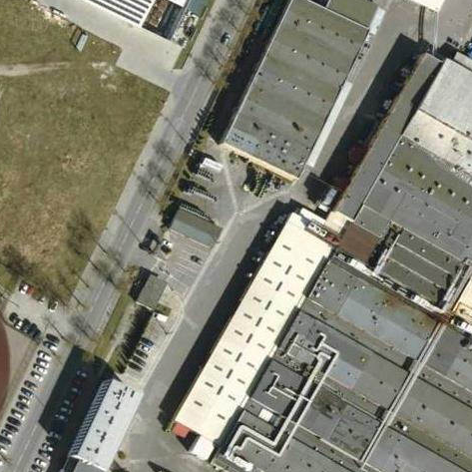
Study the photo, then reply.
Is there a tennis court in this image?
No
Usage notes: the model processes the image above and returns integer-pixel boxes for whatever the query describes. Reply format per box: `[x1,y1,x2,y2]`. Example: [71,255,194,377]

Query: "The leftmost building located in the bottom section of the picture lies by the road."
[68,379,145,472]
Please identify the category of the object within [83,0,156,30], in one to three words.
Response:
building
